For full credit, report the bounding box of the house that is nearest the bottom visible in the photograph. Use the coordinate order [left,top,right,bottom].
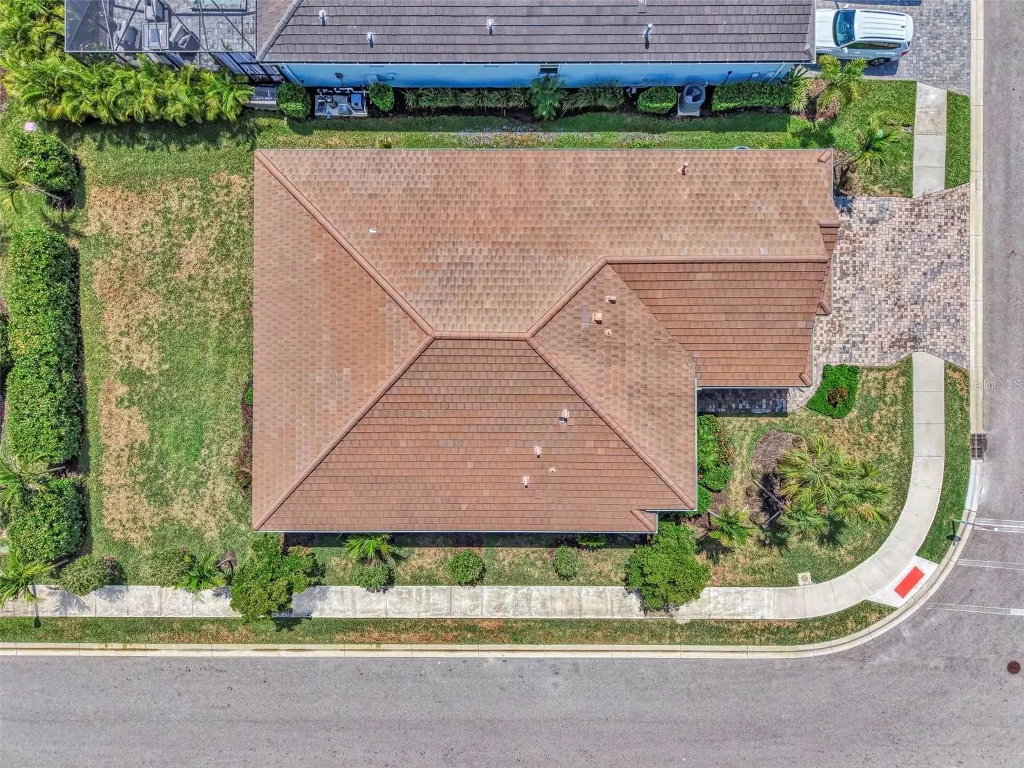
[251,146,844,534]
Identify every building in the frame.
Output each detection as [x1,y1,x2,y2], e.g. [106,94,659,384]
[254,0,820,88]
[251,146,844,534]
